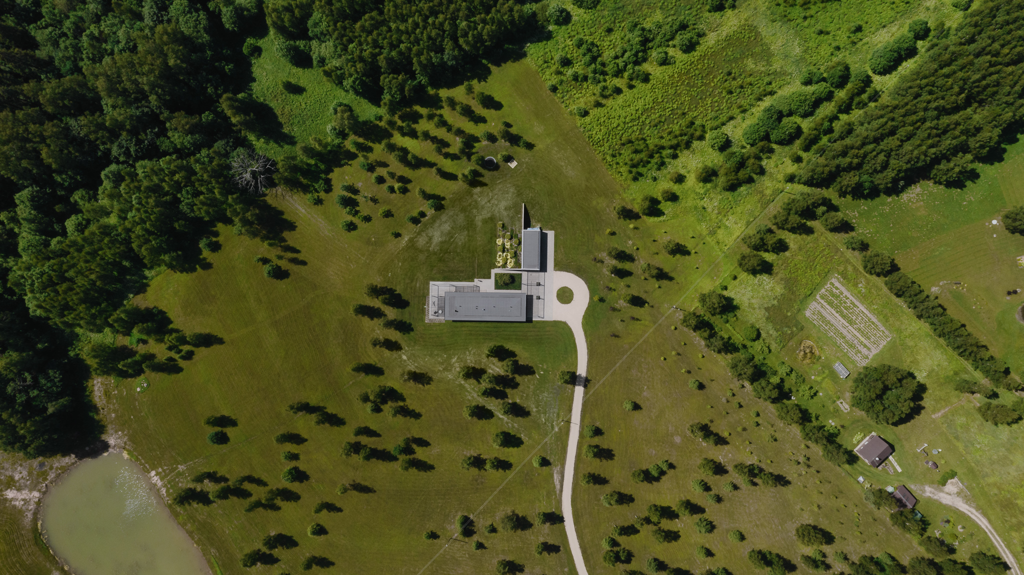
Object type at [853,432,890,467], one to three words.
house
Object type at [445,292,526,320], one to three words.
house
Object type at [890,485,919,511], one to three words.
building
